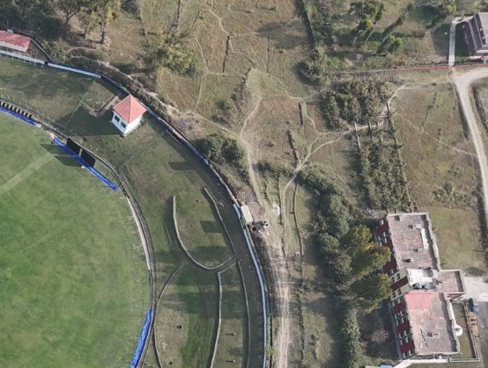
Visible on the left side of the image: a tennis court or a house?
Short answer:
house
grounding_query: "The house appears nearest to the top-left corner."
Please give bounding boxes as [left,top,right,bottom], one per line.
[0,29,31,55]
